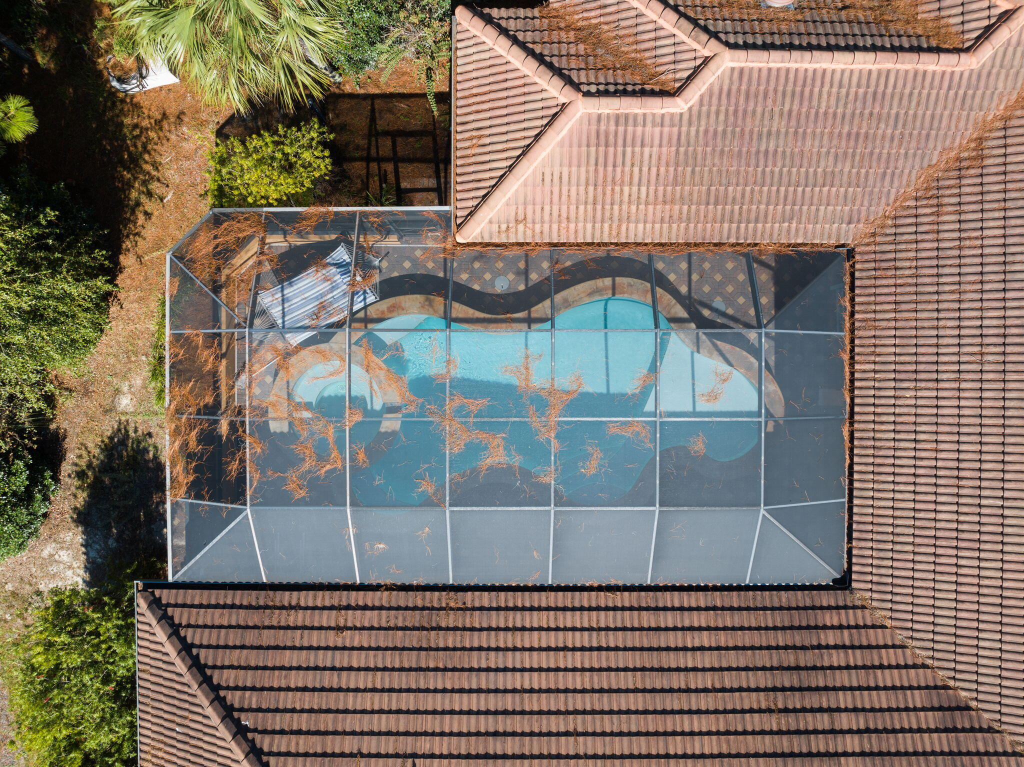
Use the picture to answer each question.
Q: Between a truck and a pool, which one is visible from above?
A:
pool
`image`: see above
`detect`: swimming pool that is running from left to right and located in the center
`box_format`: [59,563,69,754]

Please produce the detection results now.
[269,277,781,532]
